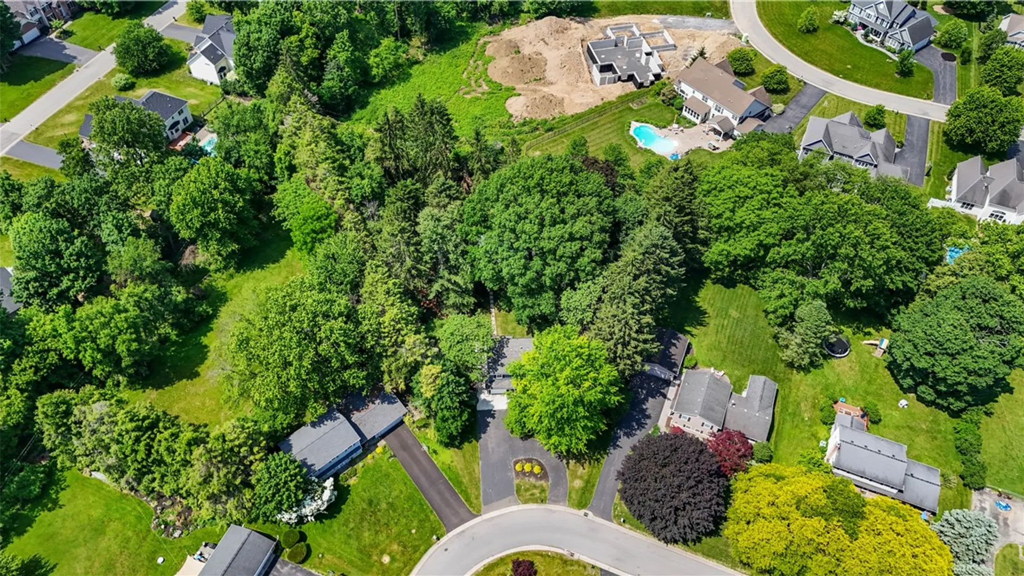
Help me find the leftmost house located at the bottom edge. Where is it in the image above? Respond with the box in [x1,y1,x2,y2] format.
[195,524,275,576]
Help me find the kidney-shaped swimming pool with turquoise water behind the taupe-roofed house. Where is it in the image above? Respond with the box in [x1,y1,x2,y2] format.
[633,123,676,152]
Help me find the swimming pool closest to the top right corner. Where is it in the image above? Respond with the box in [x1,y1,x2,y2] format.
[939,242,970,265]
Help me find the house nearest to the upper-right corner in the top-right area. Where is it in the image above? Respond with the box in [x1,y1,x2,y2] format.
[995,13,1024,52]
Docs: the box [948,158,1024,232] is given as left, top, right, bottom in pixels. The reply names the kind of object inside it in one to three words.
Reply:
house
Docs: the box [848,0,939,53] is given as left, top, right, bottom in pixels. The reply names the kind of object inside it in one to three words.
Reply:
house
